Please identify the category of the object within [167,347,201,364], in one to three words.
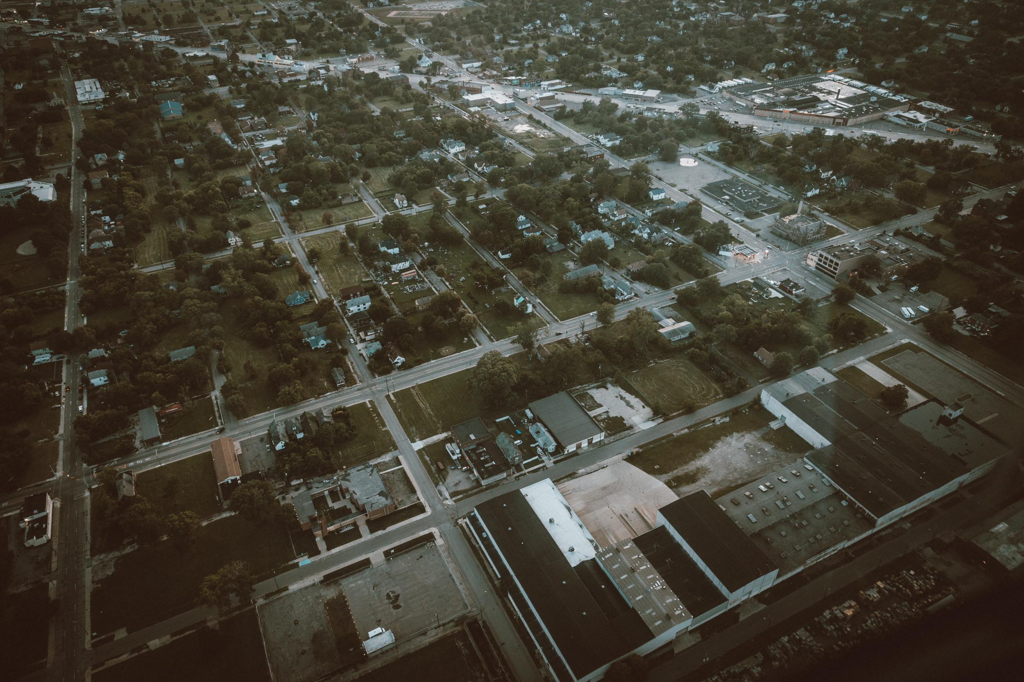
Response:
house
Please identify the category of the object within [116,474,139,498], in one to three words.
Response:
house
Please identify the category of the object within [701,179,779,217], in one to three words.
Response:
building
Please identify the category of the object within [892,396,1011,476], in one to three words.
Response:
building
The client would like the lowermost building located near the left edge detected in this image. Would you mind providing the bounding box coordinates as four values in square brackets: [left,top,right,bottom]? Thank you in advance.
[23,513,53,550]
